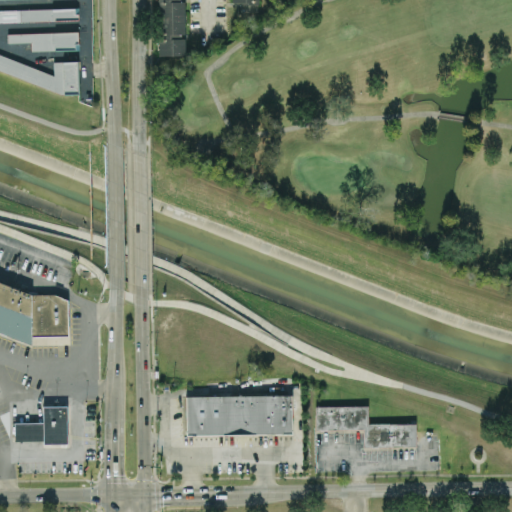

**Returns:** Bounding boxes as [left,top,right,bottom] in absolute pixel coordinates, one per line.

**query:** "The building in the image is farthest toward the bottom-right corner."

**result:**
[316,406,417,450]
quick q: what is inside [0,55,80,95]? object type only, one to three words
building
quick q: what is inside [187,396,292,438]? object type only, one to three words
building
